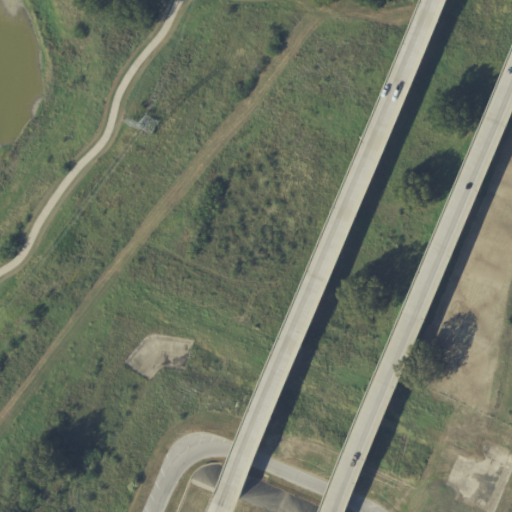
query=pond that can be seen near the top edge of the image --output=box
[0,0,45,146]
